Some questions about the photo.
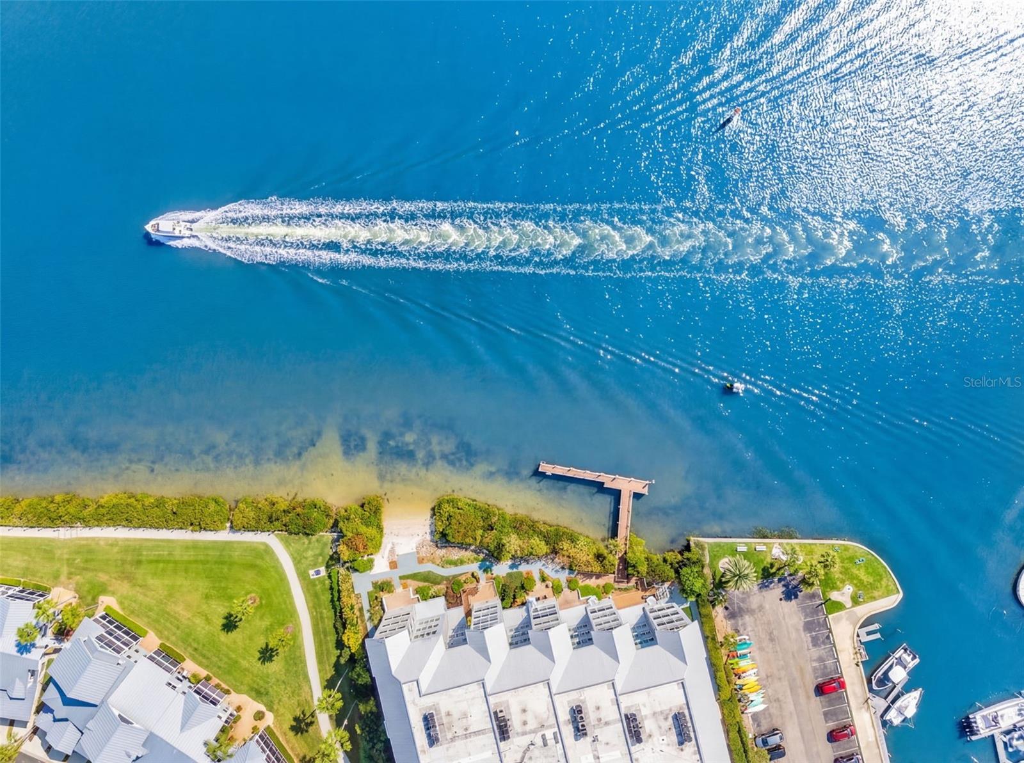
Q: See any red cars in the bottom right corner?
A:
Yes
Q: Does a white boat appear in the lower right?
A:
Yes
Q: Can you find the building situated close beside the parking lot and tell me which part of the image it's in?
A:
bottom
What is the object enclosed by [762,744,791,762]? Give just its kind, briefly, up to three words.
car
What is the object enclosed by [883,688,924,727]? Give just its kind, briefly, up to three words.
boat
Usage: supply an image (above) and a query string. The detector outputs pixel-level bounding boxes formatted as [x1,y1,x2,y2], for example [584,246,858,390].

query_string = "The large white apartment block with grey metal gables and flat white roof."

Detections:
[365,589,731,763]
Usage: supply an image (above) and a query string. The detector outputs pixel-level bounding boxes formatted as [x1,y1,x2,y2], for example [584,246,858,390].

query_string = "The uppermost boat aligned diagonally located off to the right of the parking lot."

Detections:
[873,643,920,690]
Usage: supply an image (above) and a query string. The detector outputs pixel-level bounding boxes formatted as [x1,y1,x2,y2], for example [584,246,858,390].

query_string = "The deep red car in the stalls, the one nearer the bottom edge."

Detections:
[827,723,856,742]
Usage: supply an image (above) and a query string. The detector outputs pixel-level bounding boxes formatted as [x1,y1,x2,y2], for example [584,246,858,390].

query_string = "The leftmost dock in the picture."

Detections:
[539,461,655,583]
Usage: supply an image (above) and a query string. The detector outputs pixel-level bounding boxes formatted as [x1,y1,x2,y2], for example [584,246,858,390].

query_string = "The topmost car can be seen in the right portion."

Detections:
[815,677,845,695]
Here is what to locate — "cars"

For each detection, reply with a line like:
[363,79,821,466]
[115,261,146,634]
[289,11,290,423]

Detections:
[762,744,791,762]
[754,729,784,748]
[827,723,856,742]
[815,677,845,695]
[834,750,864,763]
